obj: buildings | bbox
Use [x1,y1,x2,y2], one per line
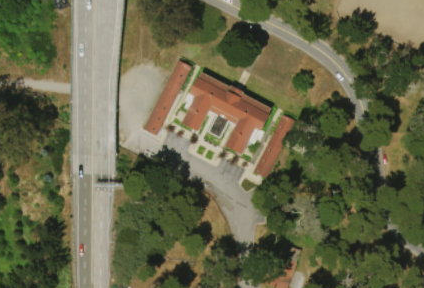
[183,72,272,153]
[146,61,192,134]
[267,250,302,288]
[254,114,293,177]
